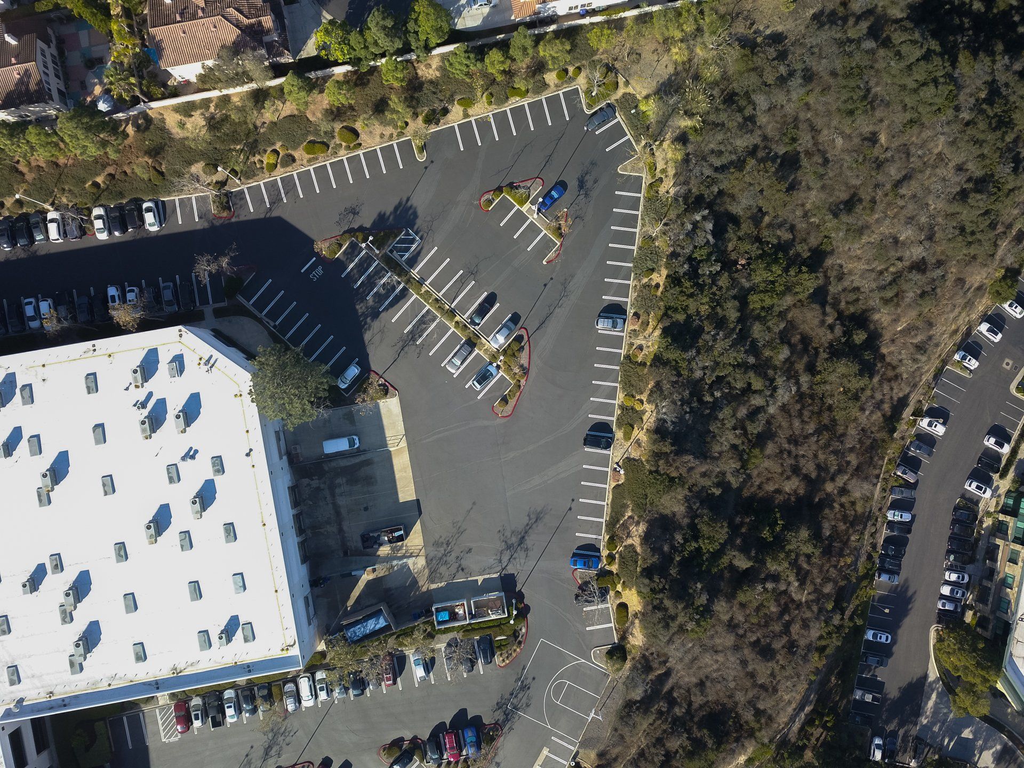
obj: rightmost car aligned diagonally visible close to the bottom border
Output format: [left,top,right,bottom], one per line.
[389,745,416,768]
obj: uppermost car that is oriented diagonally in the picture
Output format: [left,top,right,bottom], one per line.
[586,104,616,129]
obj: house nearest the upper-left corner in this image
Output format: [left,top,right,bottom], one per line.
[0,11,66,124]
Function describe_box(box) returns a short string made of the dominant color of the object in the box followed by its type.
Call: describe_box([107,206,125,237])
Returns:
black car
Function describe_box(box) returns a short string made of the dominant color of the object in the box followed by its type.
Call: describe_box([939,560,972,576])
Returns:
black vehicle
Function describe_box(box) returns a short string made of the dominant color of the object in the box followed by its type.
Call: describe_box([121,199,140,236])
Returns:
black vehicle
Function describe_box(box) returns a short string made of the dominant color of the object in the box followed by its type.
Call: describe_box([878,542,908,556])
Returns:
black car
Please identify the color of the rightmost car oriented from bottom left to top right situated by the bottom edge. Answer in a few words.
black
